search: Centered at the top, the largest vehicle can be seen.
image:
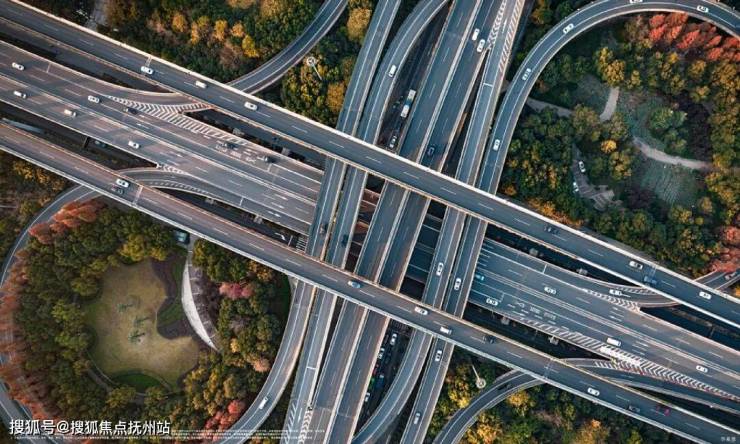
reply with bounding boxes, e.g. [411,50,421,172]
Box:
[401,88,416,117]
